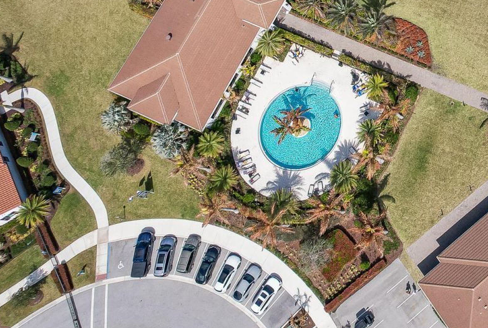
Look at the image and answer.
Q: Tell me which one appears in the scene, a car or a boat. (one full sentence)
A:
Looking from above, you can make out a car.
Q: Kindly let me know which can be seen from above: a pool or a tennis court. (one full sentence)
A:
This aerial view contains a pool.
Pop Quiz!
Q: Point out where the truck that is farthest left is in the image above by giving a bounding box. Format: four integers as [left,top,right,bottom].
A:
[131,232,156,276]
